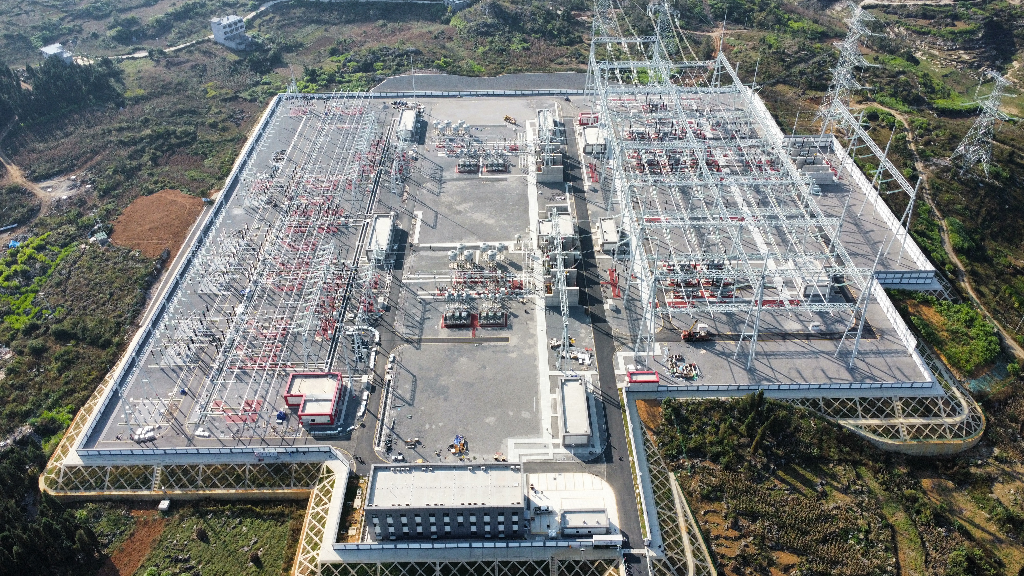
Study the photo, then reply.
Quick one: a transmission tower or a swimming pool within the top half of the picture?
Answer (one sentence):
Looking within the top half of the picture, you will find a transmission tower.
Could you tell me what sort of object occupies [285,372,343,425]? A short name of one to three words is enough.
building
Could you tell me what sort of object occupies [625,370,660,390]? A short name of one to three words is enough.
building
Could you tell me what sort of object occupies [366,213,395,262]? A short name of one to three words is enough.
house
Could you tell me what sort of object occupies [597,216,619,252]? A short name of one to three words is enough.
house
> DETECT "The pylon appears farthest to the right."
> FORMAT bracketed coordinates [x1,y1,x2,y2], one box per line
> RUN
[927,69,1008,183]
